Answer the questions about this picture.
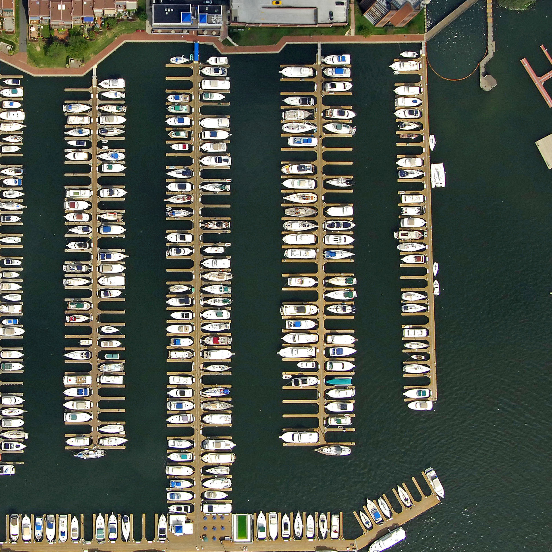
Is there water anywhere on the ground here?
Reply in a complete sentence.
Yes, some water is visible.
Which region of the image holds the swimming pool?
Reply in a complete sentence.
The swimming pool is in the bottom part of the image.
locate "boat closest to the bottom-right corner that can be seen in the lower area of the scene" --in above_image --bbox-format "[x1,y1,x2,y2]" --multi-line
[425,469,445,500]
